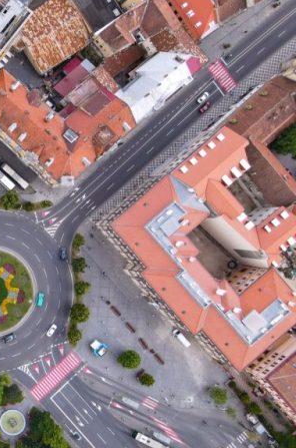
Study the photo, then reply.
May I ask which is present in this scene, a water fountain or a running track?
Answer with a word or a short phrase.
water fountain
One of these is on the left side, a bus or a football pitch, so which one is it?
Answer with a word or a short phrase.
bus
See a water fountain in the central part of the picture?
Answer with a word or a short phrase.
No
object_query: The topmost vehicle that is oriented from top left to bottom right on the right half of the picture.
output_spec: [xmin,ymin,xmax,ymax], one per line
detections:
[174,331,191,346]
